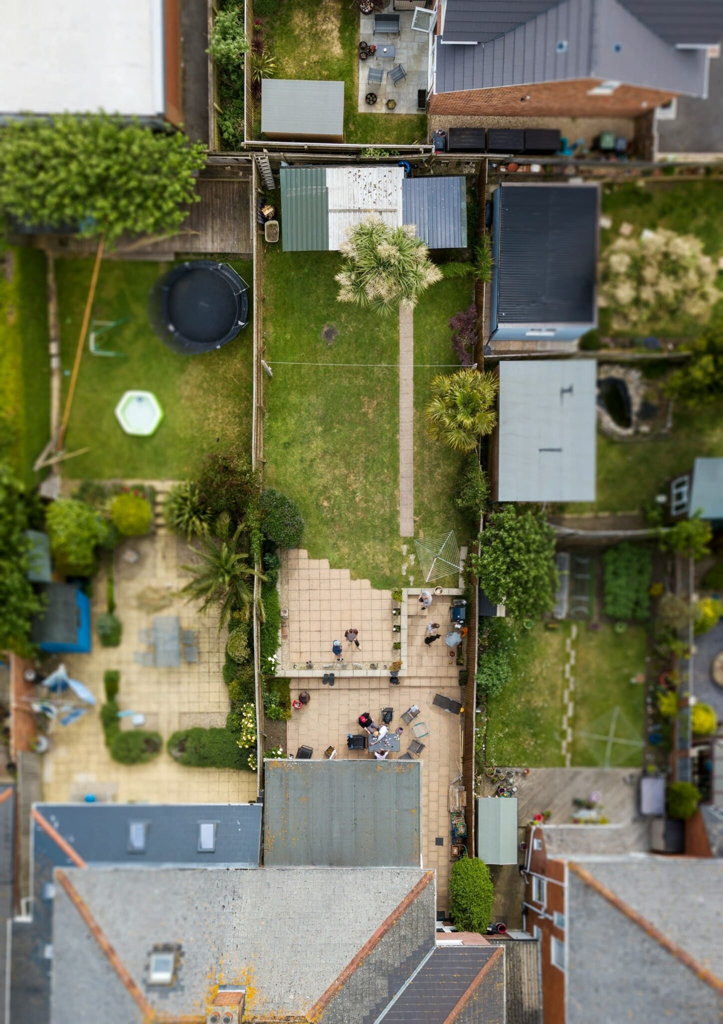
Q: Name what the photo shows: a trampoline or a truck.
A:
trampoline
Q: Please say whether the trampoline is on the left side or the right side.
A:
left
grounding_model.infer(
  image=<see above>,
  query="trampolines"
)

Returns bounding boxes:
[153,249,249,351]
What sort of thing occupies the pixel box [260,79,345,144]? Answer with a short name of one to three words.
shed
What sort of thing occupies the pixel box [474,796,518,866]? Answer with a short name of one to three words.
shed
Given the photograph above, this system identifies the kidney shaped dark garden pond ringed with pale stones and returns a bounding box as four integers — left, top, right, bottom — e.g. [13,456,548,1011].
[597,363,648,437]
